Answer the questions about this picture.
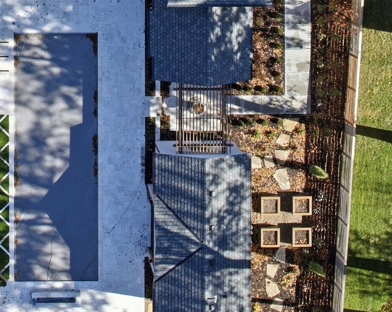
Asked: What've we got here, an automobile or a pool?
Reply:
pool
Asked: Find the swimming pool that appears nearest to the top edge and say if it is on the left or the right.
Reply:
left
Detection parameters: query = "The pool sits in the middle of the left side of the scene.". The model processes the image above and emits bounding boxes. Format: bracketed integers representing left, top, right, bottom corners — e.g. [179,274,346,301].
[10,33,98,285]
